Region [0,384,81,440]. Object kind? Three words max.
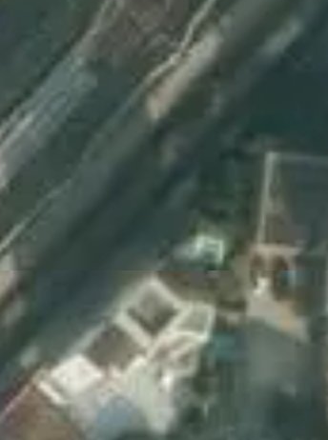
house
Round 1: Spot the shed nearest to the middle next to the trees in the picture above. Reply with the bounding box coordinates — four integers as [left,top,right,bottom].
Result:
[176,230,229,268]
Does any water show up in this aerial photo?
No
